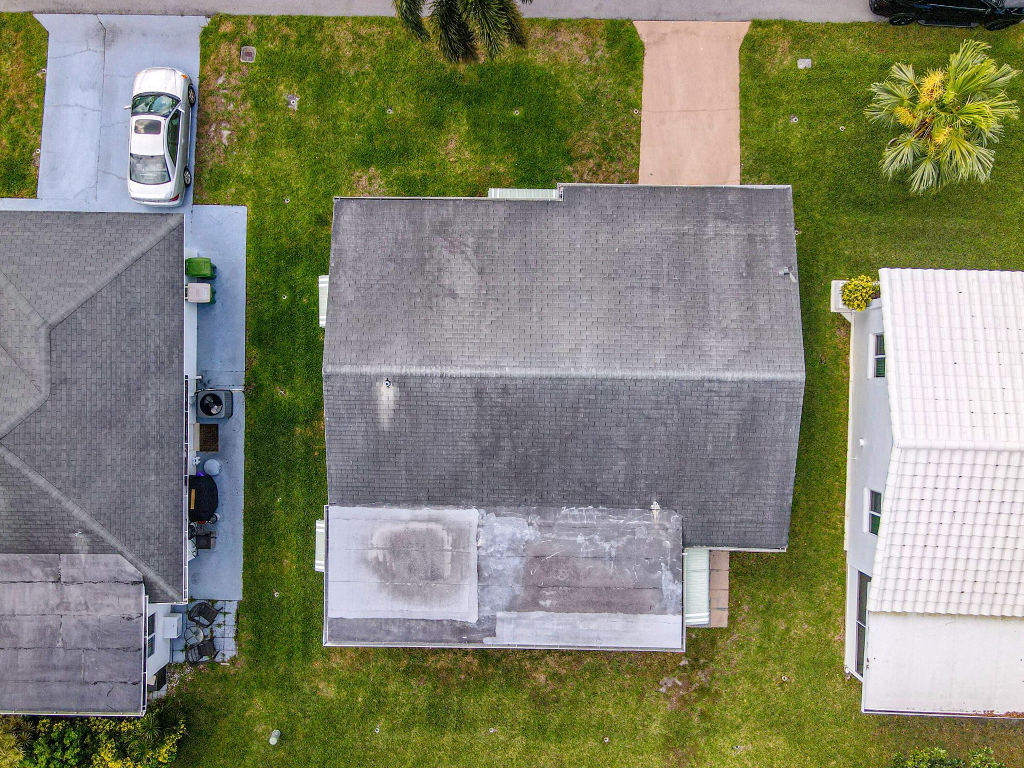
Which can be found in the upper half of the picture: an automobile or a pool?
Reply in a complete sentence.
What appears in the upper half of the picture is an automobile.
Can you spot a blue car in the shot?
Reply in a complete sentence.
No, the picture doesn't show any blue car.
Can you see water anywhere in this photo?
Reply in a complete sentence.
No, no water is visible.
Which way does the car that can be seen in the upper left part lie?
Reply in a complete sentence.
In this picture, the car that can be seen in the upper left part is oriented up and down.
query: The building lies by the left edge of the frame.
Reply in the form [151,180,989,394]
[0,211,203,716]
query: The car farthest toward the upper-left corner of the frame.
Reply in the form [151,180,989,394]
[121,65,195,207]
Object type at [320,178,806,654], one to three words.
house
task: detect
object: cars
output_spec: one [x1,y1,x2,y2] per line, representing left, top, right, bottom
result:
[877,0,1024,30]
[121,65,195,207]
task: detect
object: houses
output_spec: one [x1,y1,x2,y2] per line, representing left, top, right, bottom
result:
[844,267,1024,718]
[320,178,806,654]
[0,211,203,716]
